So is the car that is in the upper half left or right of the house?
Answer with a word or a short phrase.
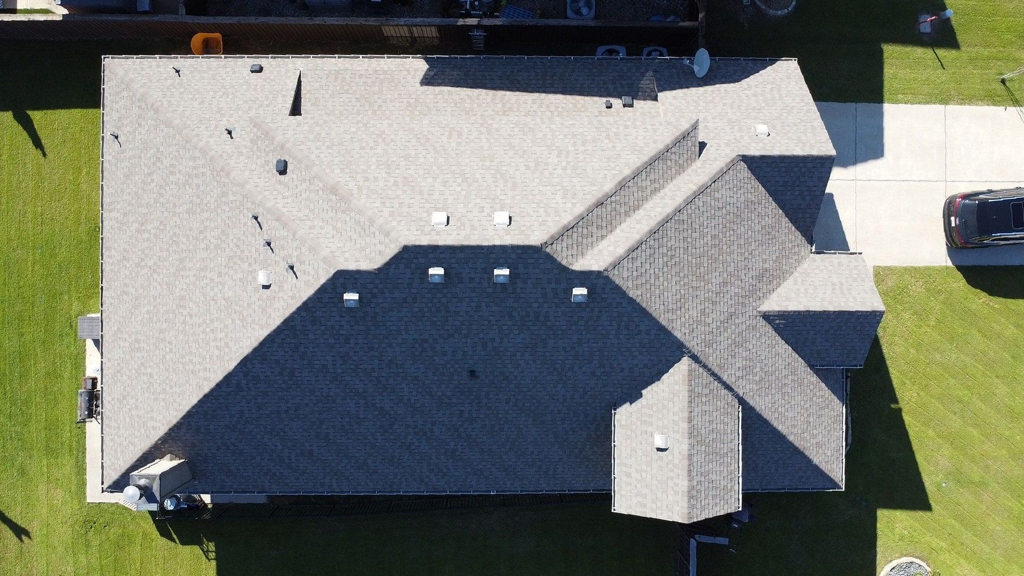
to the right of it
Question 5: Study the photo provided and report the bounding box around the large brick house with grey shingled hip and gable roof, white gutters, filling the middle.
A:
[102,55,886,525]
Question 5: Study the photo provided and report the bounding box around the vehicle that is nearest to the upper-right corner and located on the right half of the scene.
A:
[941,184,1024,247]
